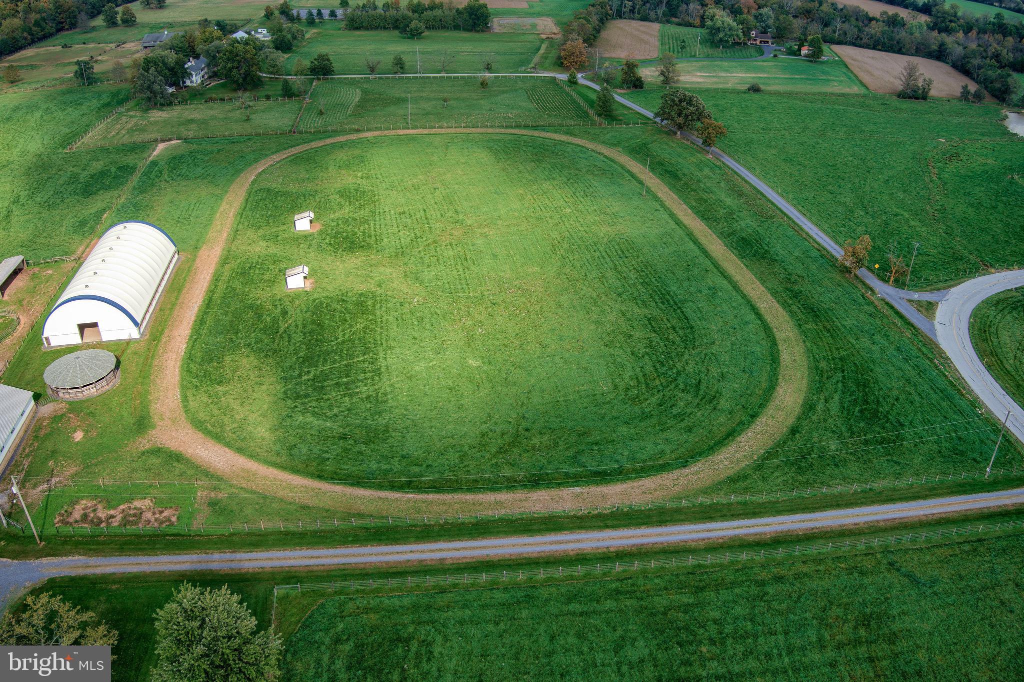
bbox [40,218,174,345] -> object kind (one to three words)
barn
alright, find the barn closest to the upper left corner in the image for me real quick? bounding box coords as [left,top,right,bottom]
[138,25,188,51]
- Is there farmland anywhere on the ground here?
Yes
